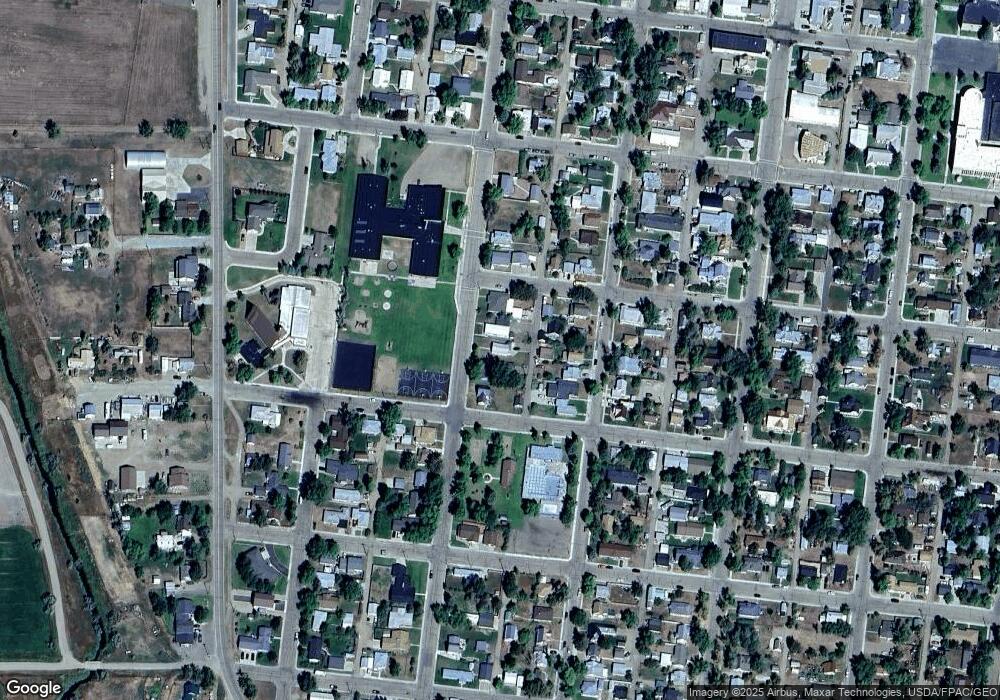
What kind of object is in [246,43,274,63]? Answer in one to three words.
house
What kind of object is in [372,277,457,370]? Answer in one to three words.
sports field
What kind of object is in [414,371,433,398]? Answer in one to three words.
basketball court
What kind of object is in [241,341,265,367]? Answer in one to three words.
building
